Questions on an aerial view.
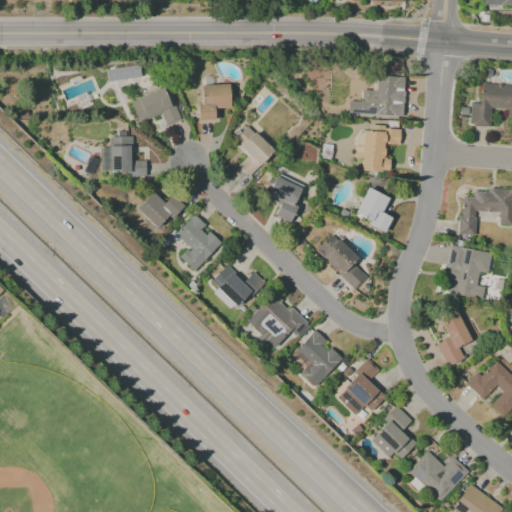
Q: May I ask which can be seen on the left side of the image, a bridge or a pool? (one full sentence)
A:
The feature located on the left side of the image is a pool.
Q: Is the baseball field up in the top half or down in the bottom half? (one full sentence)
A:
The baseball field is in the bottom half of the image.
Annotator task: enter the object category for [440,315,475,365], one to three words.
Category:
house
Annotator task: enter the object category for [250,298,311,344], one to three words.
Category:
house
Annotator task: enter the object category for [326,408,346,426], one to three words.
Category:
swimming pool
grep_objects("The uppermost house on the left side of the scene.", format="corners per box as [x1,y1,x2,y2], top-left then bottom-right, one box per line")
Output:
[108,64,142,80]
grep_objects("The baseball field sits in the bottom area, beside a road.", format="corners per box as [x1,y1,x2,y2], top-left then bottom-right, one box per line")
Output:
[0,304,234,512]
